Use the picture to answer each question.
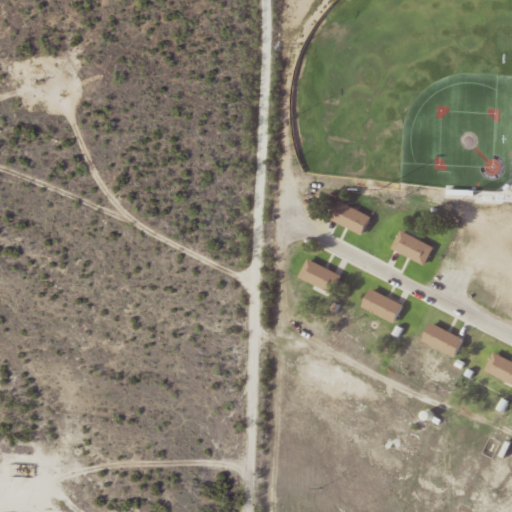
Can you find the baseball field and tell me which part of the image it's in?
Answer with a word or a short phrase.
top right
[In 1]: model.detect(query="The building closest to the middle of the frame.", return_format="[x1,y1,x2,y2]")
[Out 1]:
[298,258,340,294]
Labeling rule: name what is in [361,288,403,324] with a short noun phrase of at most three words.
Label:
house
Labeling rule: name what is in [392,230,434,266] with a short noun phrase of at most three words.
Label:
house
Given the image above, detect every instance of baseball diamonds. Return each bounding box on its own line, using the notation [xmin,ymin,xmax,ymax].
[292,0,512,191]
